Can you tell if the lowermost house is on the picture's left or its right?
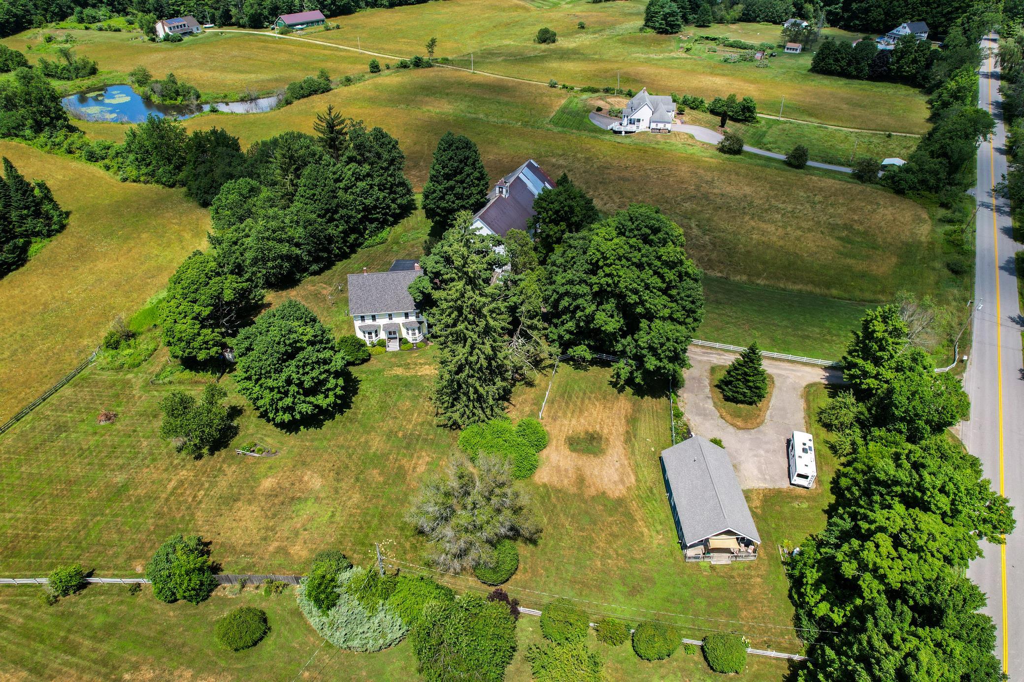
right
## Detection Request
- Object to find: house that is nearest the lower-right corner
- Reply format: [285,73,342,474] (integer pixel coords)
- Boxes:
[659,436,761,569]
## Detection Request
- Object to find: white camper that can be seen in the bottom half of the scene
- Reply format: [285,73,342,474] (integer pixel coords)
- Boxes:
[783,433,814,493]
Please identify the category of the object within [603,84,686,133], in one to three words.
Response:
house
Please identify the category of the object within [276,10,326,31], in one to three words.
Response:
barn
